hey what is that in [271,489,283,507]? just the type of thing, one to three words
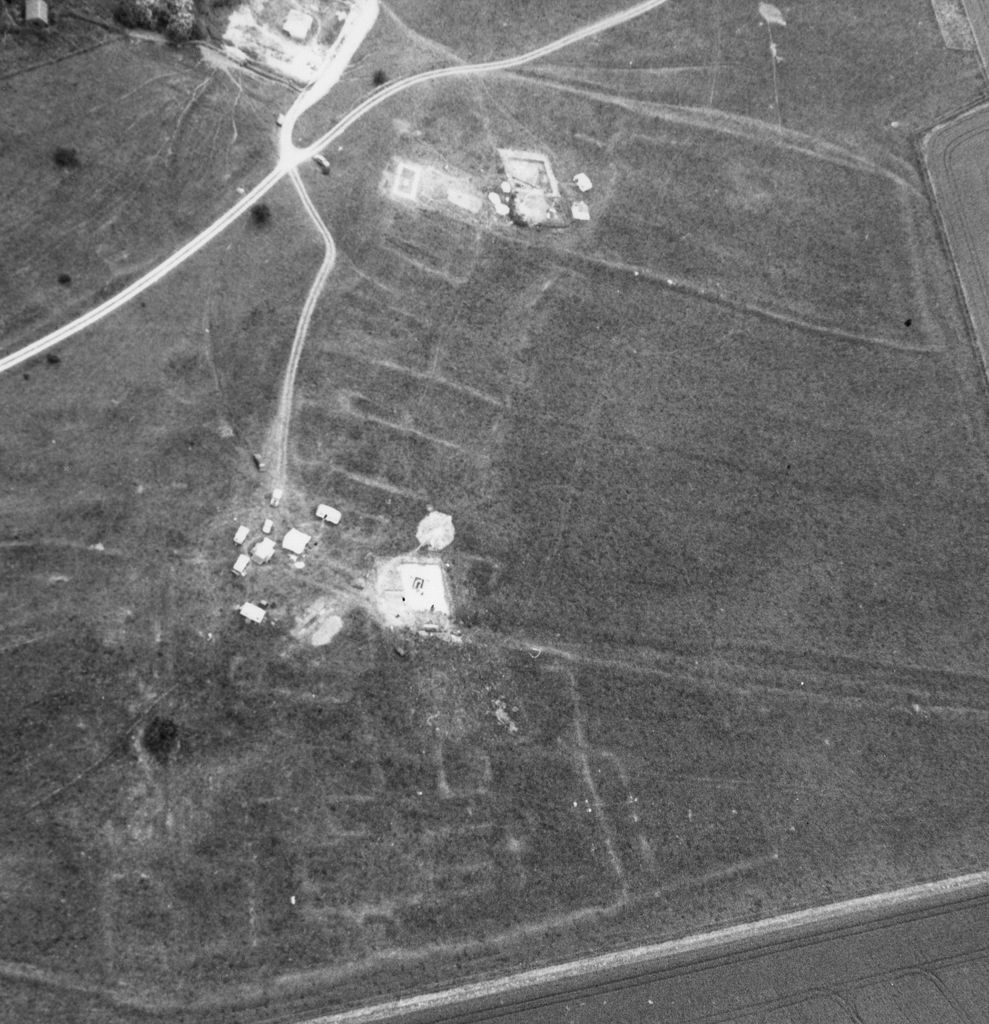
vehicle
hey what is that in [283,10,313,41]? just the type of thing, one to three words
house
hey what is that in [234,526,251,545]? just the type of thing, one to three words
camper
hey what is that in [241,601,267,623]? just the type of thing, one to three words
building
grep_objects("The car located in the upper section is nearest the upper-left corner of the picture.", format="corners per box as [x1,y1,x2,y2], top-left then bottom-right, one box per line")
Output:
[276,112,289,127]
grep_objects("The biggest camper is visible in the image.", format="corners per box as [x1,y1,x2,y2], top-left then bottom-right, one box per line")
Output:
[316,504,343,524]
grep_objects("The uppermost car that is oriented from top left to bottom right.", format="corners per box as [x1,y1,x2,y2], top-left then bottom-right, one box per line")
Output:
[313,152,332,171]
